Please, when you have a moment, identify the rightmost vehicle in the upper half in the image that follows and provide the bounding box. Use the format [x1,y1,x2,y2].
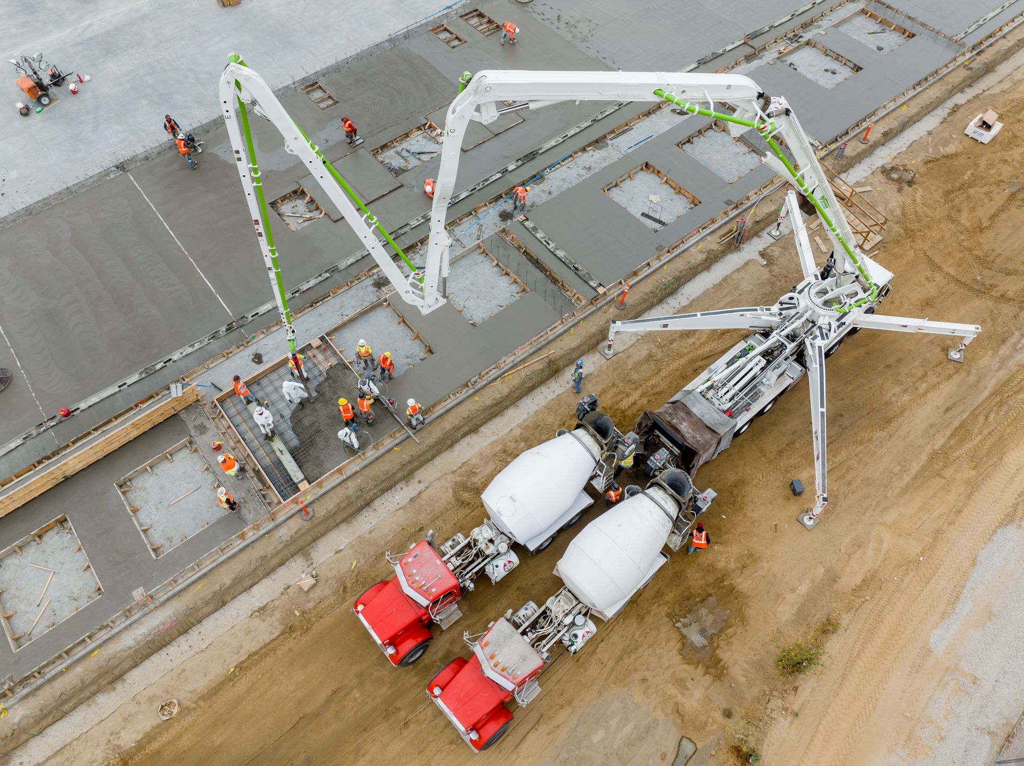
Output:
[218,50,988,525]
